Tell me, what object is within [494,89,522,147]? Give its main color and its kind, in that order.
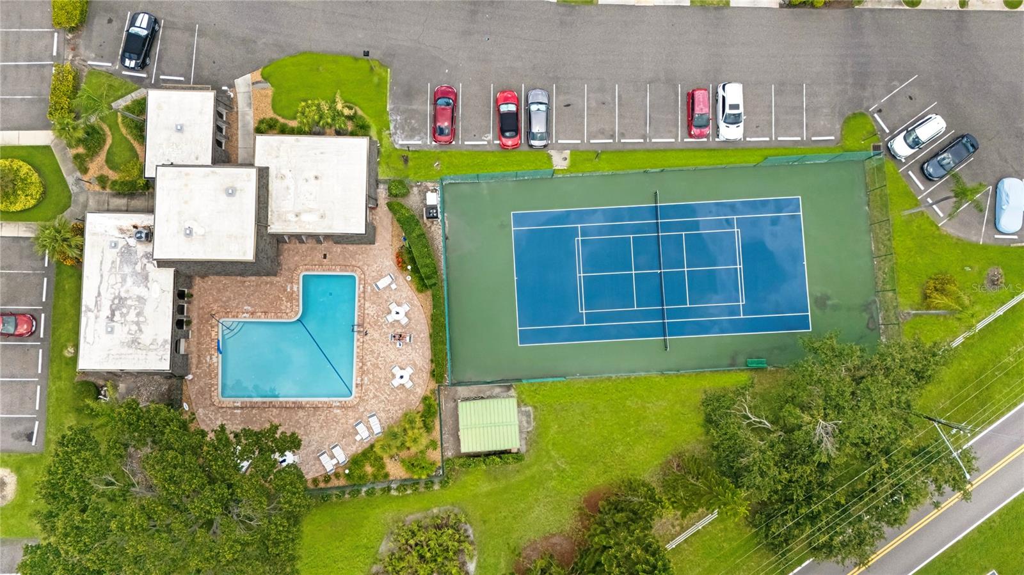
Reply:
red car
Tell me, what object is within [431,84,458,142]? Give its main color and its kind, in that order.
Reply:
red car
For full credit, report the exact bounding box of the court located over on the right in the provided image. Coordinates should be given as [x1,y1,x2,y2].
[442,160,882,384]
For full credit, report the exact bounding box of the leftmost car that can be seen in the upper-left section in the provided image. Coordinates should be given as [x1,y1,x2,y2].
[115,9,153,68]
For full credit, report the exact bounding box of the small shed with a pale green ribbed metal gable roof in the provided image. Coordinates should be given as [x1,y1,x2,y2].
[458,398,520,453]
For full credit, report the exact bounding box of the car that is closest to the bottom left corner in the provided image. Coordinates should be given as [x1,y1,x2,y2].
[0,311,33,339]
